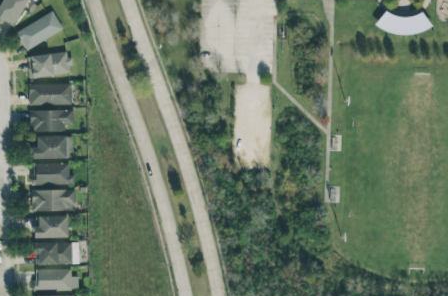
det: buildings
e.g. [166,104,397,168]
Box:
[34,270,79,291]
[30,110,74,132]
[30,83,72,105]
[0,0,28,27]
[34,136,73,158]
[32,190,76,212]
[32,163,74,186]
[18,10,63,52]
[34,216,68,239]
[37,242,80,265]
[30,52,72,78]
[376,10,435,34]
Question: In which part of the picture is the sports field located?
right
